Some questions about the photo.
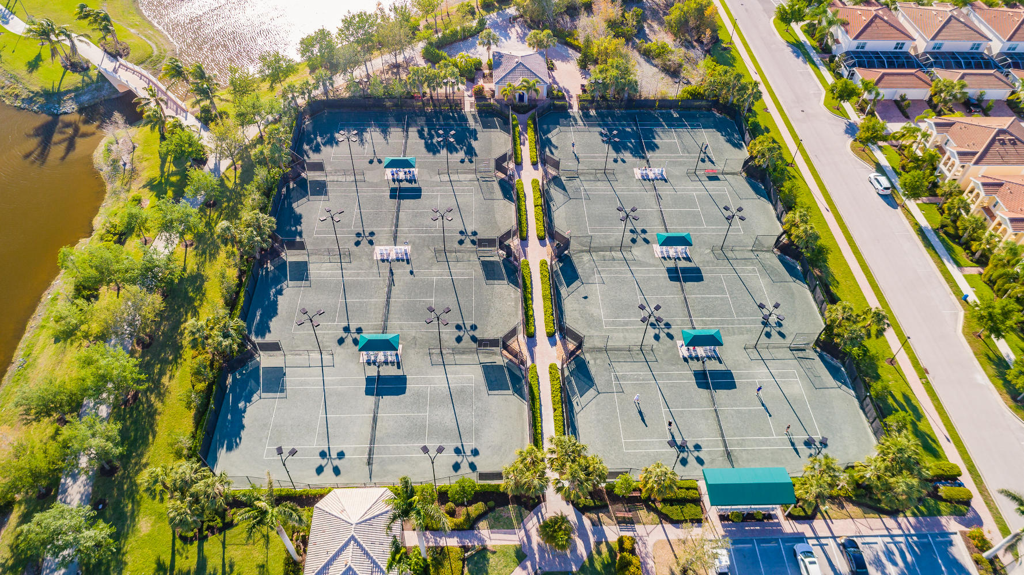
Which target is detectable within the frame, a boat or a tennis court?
tennis court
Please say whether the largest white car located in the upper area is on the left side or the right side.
right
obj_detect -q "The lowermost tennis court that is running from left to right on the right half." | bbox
[562,347,879,481]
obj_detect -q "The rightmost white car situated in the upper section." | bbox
[870,174,892,194]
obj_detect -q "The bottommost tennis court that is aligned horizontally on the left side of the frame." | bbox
[207,352,530,489]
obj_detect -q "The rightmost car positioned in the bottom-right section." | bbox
[841,538,873,575]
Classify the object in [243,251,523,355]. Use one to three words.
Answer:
tennis court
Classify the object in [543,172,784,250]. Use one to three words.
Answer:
tennis court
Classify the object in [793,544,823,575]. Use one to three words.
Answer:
car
